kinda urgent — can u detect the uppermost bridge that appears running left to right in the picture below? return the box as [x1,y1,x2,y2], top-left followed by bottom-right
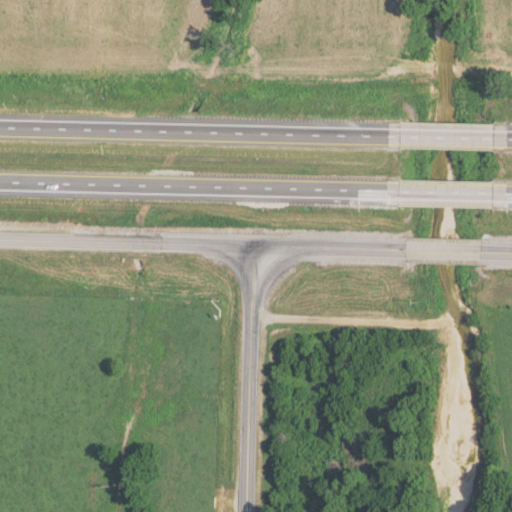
[388,122,508,152]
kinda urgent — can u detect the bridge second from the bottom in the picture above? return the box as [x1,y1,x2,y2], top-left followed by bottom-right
[388,180,507,210]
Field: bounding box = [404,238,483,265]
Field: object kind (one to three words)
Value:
bridge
